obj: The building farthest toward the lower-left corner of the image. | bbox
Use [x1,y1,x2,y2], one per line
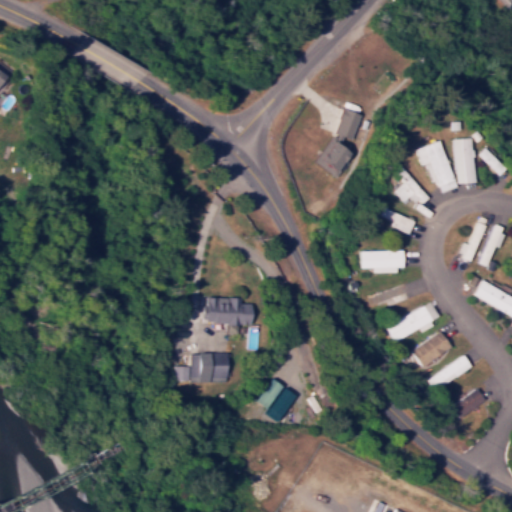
[176,354,230,382]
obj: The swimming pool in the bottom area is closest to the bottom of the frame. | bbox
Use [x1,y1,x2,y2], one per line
[248,326,260,351]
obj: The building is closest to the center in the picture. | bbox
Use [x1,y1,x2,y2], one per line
[206,298,254,326]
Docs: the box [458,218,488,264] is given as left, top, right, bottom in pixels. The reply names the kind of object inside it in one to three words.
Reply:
house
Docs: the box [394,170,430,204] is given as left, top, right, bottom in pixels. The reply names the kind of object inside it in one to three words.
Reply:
house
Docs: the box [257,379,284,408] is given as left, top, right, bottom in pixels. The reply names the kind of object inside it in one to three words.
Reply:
shed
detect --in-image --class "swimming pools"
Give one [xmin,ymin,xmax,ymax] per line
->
[248,326,260,351]
[2,96,16,112]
